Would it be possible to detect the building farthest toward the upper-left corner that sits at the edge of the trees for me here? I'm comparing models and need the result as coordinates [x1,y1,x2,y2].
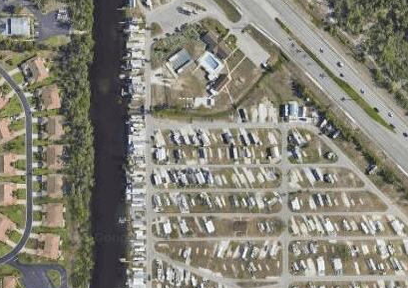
[0,18,30,37]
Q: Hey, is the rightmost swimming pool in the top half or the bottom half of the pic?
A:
top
